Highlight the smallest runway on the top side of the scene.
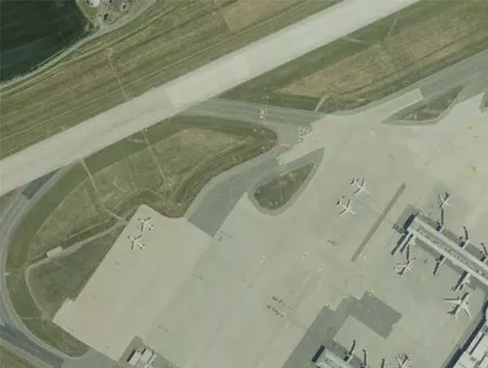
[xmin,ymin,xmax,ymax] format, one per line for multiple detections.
[168,47,260,110]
